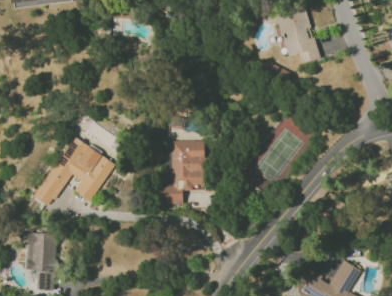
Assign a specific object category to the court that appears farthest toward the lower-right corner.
tennis court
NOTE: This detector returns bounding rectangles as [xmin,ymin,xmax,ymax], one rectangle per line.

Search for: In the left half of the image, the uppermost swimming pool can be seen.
[123,22,150,39]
